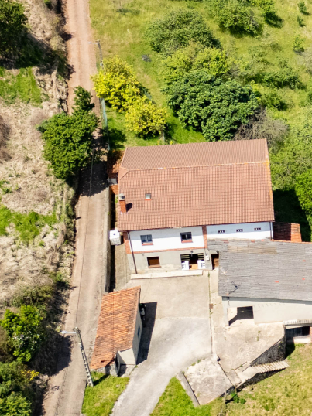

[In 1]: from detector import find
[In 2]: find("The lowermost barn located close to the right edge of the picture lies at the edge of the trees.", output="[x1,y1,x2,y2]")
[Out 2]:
[217,237,312,350]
